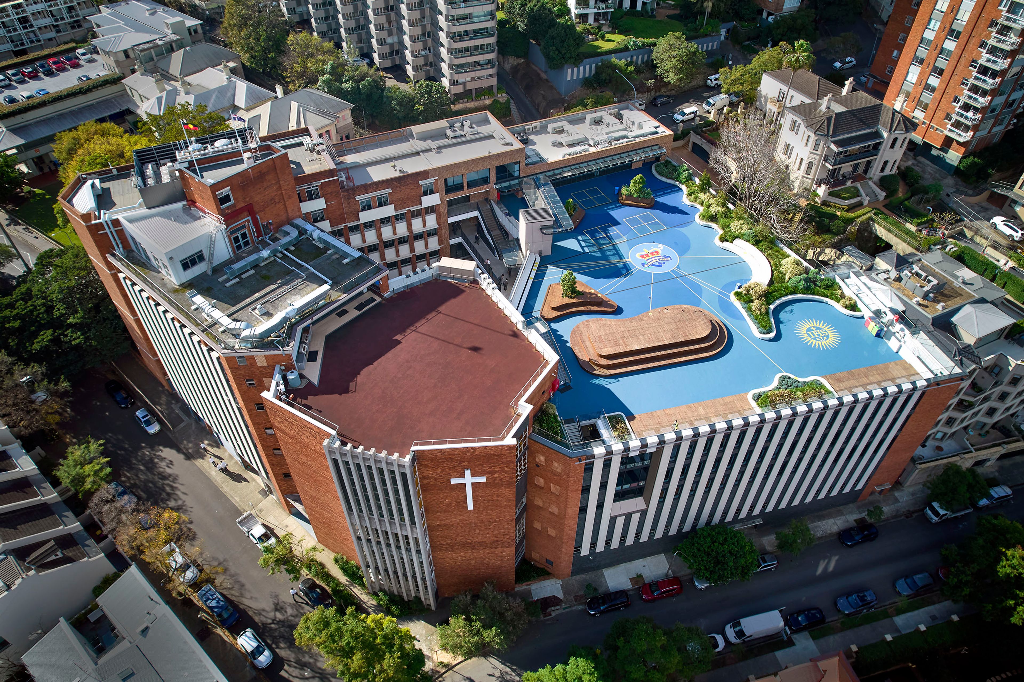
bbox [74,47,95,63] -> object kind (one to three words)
car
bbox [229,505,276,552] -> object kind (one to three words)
truck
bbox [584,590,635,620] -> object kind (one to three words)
car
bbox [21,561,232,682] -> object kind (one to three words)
house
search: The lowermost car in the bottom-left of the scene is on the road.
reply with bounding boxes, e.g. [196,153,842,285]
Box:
[233,624,275,669]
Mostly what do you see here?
buildings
